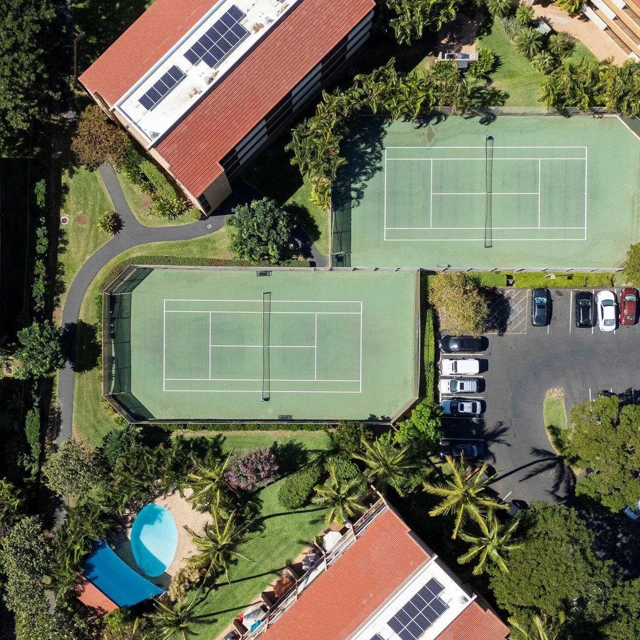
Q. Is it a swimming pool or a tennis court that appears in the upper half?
tennis court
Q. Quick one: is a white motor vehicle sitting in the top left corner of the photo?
No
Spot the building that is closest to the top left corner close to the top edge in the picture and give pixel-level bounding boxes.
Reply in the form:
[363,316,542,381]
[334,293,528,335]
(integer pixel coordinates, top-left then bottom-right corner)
[78,0,379,211]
